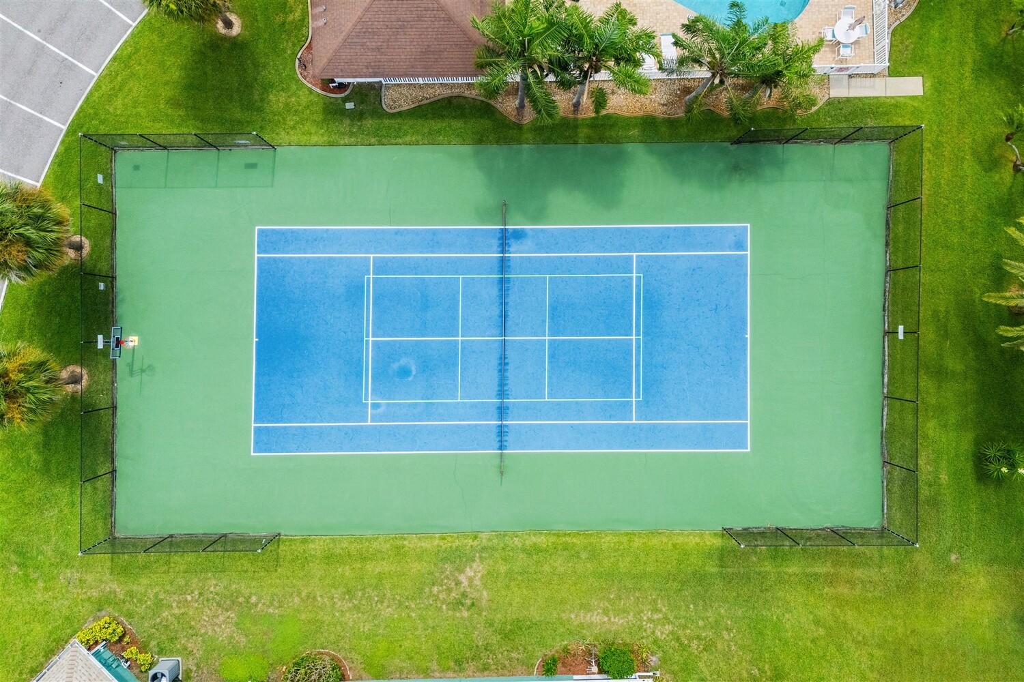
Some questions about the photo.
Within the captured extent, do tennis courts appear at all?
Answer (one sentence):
Yes, there's a tennis court down there.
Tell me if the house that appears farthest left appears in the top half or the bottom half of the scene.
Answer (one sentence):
You can find the house that appears farthest left in the bottom half.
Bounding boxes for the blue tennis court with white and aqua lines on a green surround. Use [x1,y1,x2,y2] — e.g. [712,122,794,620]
[111,140,893,539]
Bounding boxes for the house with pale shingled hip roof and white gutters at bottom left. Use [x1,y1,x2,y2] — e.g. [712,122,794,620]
[33,641,116,682]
